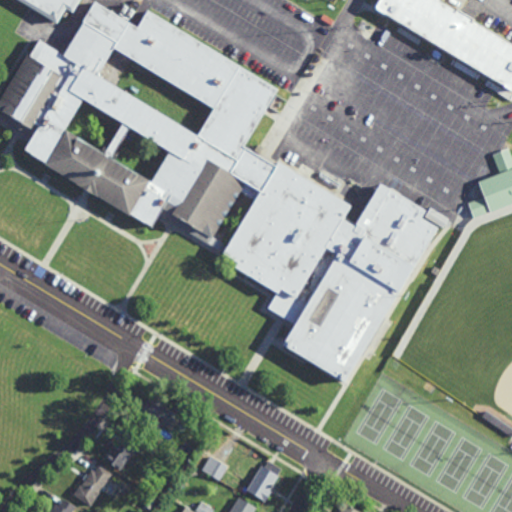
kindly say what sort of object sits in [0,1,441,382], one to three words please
building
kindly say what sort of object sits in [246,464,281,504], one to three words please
house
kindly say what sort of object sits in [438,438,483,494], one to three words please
tennis court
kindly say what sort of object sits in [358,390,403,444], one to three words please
tennis court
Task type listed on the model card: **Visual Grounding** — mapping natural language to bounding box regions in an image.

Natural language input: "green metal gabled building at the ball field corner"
[468,148,512,218]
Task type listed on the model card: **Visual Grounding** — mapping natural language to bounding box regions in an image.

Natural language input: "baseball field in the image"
[392,204,512,436]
